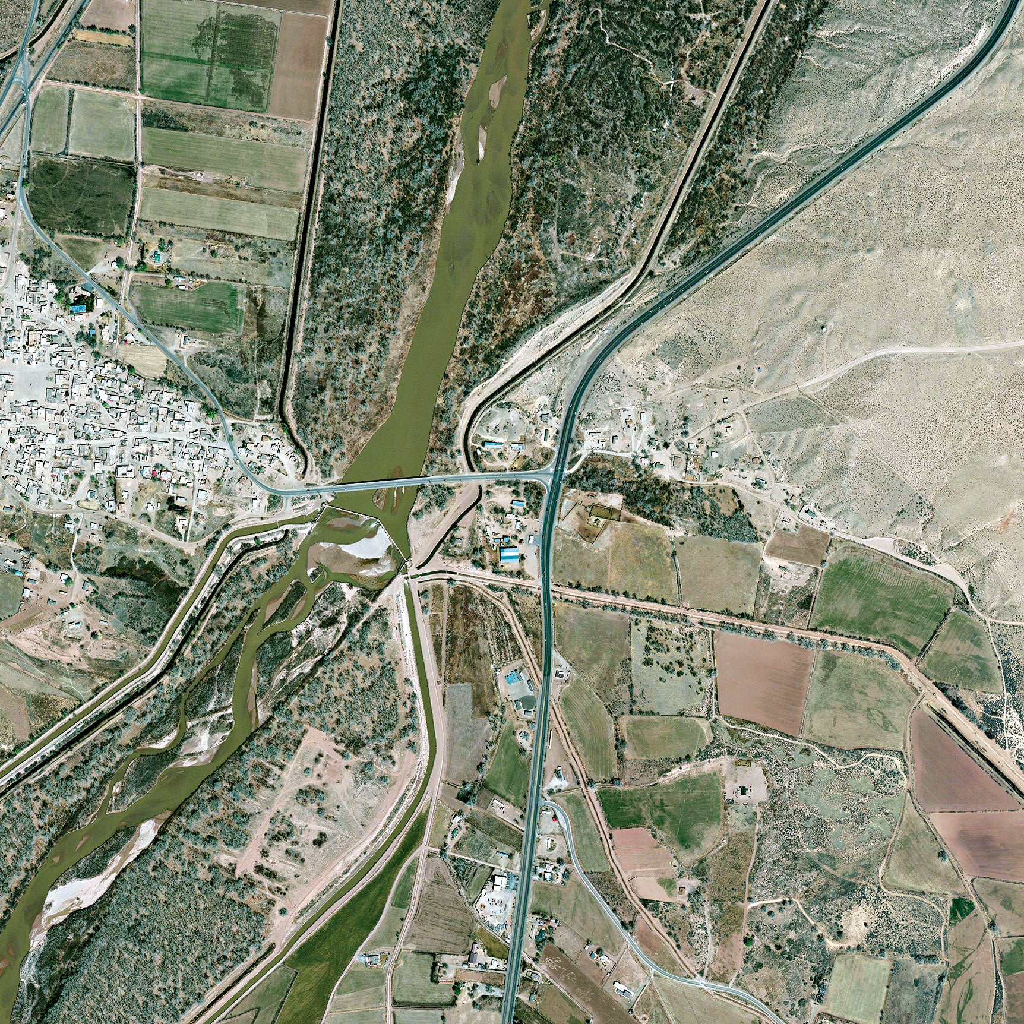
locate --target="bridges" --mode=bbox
[327,479,426,494]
